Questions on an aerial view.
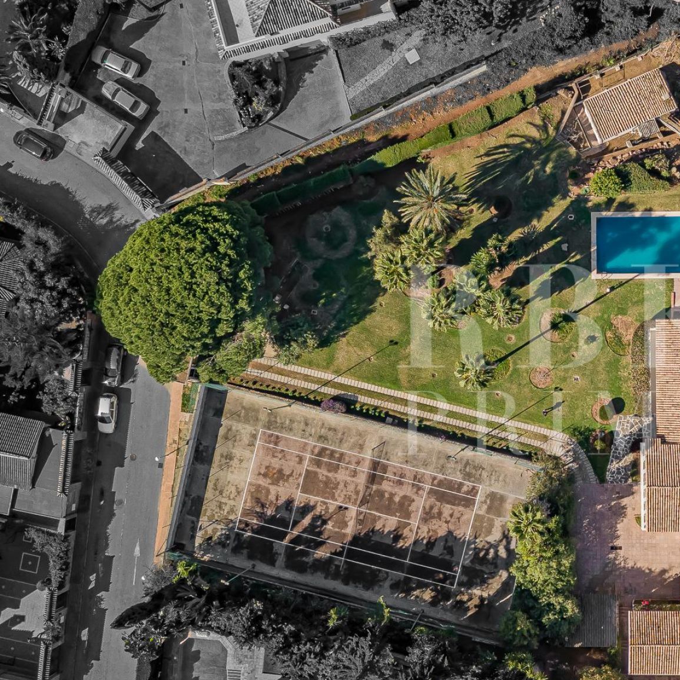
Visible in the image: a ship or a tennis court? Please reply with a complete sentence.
It is a tennis court that can be seen here.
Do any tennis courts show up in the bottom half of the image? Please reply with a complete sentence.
Yes, a tennis court shows up in the bottom half of the image.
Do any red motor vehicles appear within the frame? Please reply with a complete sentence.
No, no red motor vehicle can be seen from above.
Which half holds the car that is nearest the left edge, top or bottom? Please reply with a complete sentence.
It is in the top half that the car that is nearest the left edge appears.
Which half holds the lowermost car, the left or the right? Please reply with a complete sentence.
You can find the lowermost car on the left side of the picture.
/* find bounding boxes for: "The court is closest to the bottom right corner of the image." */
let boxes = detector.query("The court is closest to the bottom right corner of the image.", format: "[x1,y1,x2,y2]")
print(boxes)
[178,389,551,636]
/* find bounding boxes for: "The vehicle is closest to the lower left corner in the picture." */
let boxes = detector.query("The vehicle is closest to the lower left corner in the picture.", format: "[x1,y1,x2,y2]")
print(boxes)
[96,393,120,432]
